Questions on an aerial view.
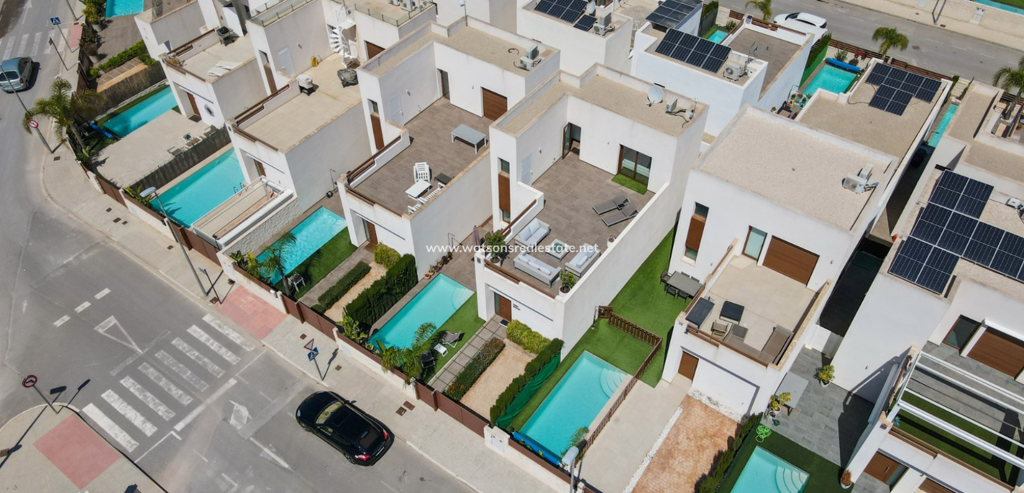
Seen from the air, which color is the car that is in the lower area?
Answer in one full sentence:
From above, the car that is in the lower area appears black.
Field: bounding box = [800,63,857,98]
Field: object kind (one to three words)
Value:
swimming pool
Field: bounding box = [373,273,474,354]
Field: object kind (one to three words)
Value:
swimming pool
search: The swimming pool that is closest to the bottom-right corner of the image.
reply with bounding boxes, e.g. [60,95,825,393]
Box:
[732,444,811,493]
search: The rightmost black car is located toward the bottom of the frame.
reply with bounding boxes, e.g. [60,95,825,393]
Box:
[295,390,392,468]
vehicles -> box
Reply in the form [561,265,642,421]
[0,57,32,94]
[772,14,830,44]
[295,390,392,468]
